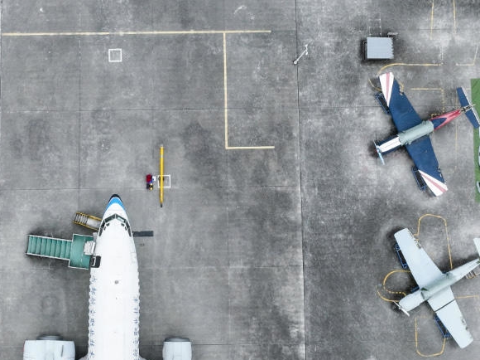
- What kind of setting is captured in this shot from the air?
airport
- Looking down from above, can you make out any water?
No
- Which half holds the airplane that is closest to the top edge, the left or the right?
right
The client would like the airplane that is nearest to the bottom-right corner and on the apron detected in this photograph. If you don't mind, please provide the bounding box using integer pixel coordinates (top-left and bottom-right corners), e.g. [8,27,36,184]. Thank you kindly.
[394,229,480,348]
